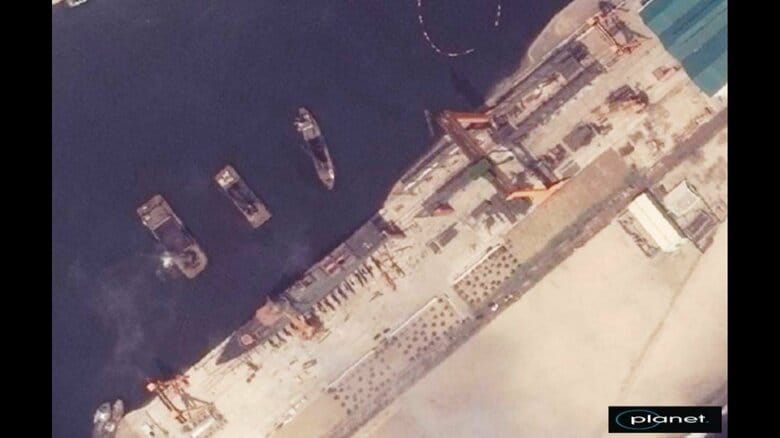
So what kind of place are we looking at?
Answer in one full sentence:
This image shows a port.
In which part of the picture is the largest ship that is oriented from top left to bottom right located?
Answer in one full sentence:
The largest ship that is oriented from top left to bottom right is in the left part of the image.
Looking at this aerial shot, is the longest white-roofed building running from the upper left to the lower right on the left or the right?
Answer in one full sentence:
You can find the longest white-roofed building running from the upper left to the lower right on the right side of the picture.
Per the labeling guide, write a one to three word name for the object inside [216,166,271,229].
ship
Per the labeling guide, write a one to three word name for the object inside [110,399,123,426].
boat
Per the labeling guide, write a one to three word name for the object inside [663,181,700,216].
building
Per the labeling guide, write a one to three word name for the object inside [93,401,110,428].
boat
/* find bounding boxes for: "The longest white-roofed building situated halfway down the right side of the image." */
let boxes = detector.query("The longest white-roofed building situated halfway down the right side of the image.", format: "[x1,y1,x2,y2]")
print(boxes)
[628,193,686,251]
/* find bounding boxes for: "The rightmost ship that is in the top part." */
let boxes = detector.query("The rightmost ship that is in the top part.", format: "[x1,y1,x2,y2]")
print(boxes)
[294,106,334,190]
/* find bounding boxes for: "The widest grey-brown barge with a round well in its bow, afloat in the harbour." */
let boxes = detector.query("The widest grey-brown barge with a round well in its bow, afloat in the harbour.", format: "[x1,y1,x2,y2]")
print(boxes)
[139,193,206,273]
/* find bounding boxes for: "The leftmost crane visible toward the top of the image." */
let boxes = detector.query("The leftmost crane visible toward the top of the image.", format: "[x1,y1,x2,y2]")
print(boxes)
[437,109,570,209]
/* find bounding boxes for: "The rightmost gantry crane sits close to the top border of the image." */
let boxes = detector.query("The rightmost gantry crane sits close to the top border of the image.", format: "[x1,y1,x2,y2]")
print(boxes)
[593,8,650,55]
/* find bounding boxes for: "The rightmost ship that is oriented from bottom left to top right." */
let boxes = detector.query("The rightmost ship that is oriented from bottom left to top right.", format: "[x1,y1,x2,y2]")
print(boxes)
[214,220,391,363]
